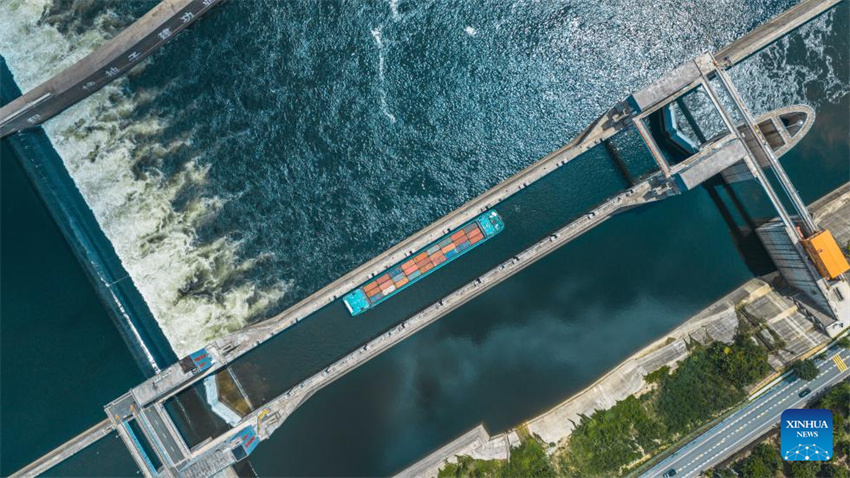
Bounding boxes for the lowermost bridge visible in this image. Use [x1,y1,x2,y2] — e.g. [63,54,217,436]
[141,402,190,470]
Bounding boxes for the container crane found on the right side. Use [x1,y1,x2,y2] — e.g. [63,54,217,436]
[794,226,849,276]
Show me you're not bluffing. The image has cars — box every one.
[665,469,676,478]
[798,390,809,399]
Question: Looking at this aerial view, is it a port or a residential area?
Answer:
port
